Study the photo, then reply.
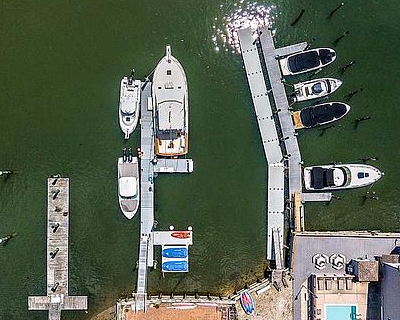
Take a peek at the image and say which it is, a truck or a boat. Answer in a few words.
boat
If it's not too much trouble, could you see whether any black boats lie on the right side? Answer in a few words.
Yes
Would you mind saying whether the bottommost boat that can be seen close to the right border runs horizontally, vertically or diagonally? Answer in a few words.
horizontally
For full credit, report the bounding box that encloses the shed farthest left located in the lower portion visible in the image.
[352,258,379,281]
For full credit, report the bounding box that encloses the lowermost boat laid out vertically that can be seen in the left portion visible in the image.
[119,151,140,219]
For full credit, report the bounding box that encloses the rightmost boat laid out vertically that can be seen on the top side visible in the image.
[154,47,188,155]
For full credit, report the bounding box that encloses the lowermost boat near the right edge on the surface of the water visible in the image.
[302,164,385,190]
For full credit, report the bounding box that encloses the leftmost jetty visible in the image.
[29,178,88,320]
